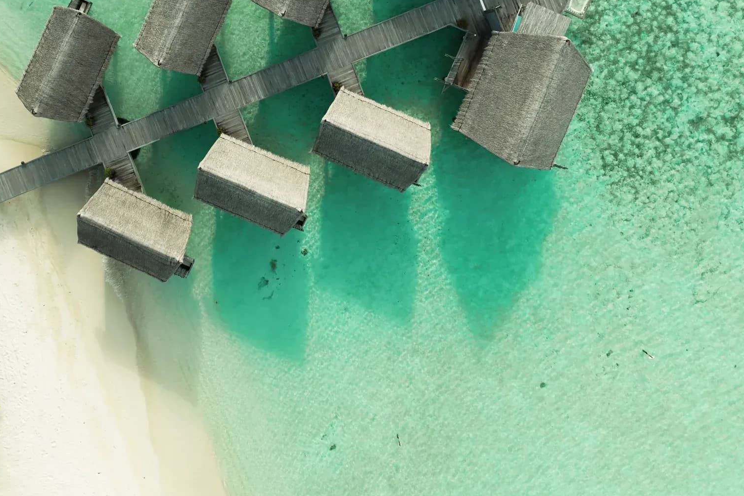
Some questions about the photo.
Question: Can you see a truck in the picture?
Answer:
No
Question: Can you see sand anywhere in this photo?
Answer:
Yes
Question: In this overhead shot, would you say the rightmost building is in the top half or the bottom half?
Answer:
top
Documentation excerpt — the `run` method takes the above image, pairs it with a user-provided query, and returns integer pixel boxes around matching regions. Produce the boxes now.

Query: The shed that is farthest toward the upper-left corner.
[15,0,122,122]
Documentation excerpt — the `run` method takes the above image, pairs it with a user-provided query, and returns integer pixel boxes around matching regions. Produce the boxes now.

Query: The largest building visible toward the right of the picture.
[438,31,593,169]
